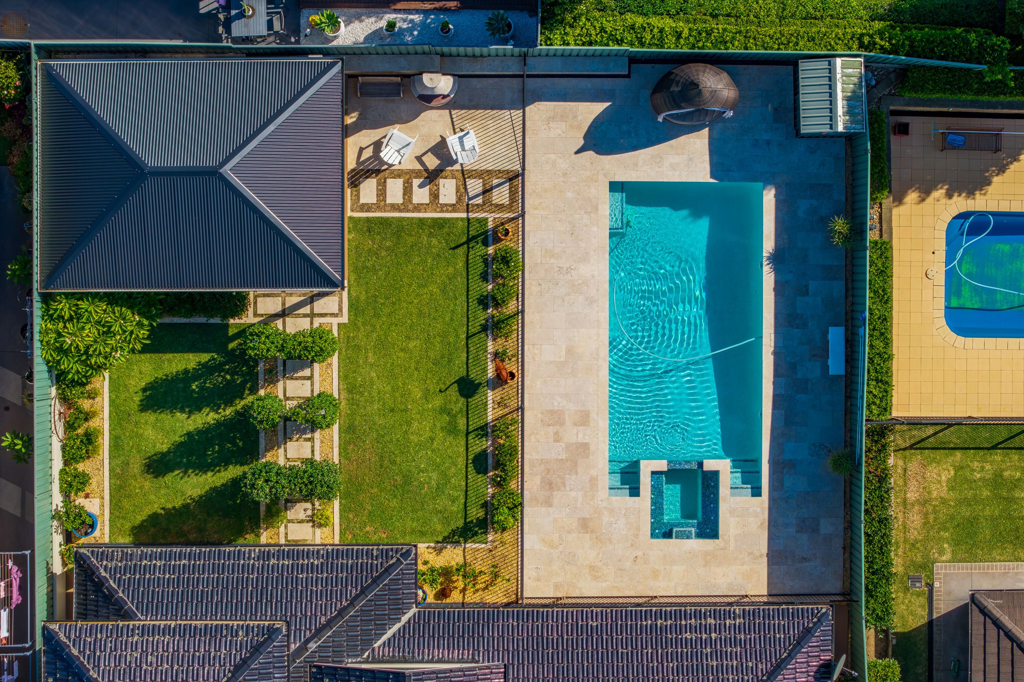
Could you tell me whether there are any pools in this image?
Yes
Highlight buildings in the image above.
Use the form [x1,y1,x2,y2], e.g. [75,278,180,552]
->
[963,587,1024,682]
[794,56,865,137]
[38,59,350,291]
[39,544,835,682]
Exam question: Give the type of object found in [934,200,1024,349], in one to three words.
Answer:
swimming pool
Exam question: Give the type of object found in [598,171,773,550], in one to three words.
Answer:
swimming pool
